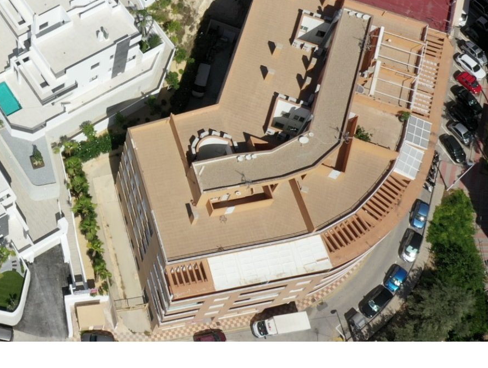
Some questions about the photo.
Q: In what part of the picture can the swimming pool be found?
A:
top left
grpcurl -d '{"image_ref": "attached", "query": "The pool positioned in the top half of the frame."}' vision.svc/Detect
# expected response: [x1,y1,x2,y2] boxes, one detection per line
[0,78,25,119]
